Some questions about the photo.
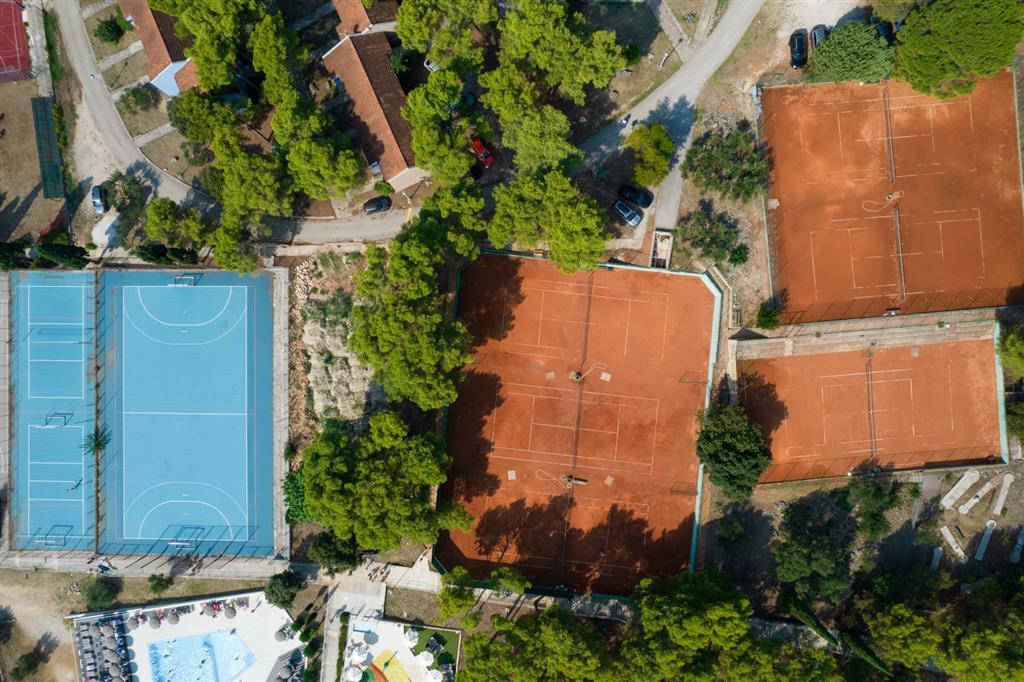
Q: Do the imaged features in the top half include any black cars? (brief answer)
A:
Yes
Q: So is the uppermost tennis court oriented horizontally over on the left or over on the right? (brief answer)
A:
right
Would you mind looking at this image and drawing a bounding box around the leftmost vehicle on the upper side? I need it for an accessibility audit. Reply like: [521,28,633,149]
[87,183,106,213]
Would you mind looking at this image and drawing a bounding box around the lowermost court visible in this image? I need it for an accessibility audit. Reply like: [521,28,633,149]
[434,453,703,597]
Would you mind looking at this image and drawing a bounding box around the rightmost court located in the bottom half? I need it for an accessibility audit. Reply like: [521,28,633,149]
[738,340,1004,484]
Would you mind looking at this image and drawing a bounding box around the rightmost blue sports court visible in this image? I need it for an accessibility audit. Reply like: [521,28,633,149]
[98,271,274,557]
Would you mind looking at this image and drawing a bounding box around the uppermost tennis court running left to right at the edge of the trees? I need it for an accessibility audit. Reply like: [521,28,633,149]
[765,68,1022,206]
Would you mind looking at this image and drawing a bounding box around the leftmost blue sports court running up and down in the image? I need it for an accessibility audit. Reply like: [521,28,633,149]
[10,270,95,552]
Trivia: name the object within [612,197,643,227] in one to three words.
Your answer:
car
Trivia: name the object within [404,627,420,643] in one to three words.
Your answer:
umbrella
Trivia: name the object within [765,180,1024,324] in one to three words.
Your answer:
tennis court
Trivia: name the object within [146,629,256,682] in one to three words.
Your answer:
swimming pool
